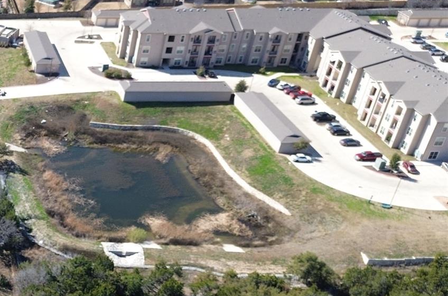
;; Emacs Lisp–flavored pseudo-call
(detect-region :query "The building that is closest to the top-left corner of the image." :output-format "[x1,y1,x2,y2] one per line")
[23,22,69,74]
